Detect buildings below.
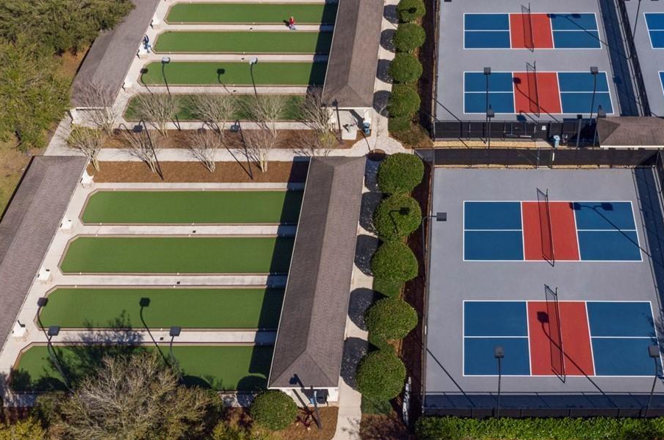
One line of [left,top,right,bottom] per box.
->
[595,116,664,149]
[0,154,94,357]
[319,0,388,131]
[63,0,174,131]
[266,155,367,402]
